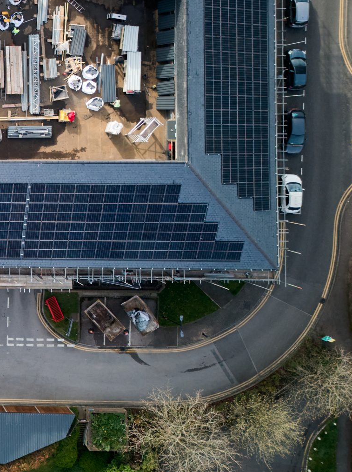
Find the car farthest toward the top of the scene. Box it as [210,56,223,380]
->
[285,0,310,29]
